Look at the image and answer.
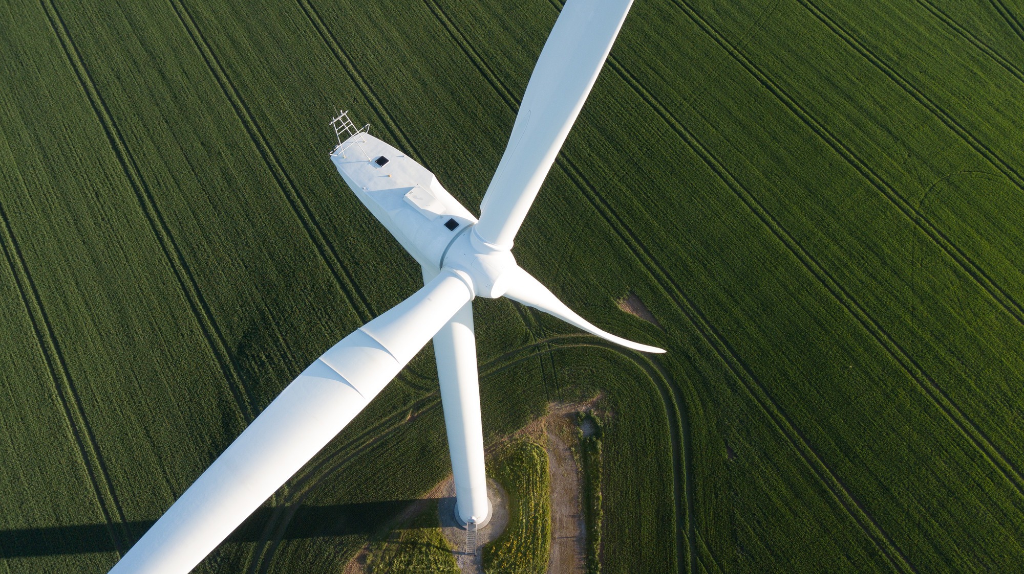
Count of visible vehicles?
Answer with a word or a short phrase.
0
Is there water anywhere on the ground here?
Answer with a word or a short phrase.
No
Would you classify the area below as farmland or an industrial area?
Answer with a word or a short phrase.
farmland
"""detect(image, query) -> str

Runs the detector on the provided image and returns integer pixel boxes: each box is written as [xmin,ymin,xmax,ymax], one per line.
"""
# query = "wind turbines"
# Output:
[113,0,666,574]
